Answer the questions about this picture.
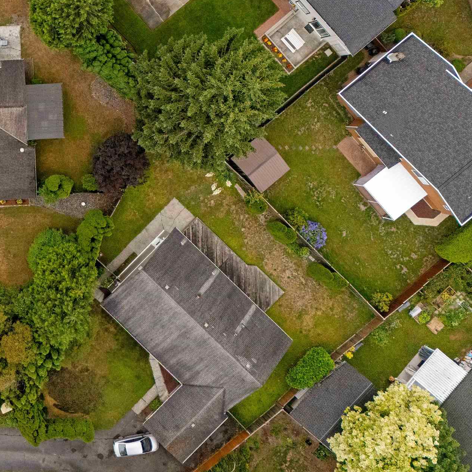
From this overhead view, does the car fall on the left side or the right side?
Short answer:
left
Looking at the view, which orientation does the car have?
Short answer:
from side to side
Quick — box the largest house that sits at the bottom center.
[101,228,293,464]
